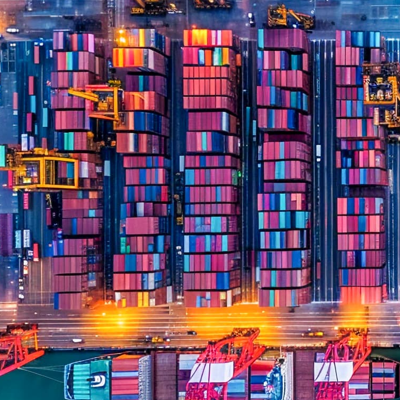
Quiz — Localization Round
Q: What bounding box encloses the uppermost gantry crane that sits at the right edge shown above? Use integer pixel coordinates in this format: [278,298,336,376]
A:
[364,66,400,141]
